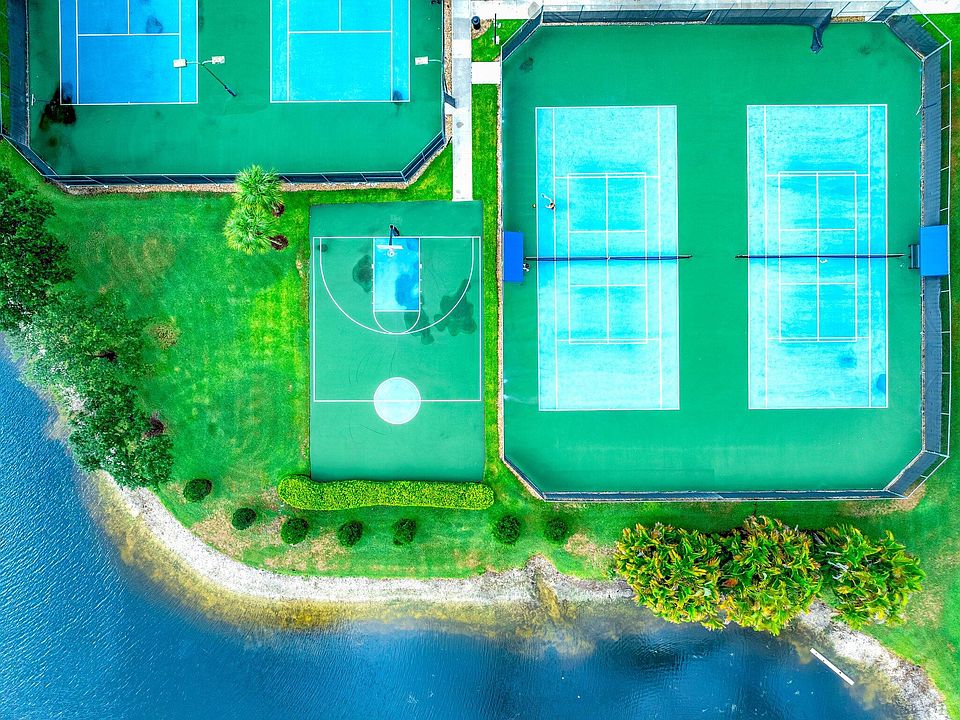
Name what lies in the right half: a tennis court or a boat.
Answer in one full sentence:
Visible in the right half is a tennis court.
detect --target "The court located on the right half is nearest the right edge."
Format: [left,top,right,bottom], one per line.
[746,103,890,410]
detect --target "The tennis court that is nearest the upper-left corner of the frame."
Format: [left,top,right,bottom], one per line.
[58,0,200,103]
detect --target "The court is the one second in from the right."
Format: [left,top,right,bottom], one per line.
[536,105,680,412]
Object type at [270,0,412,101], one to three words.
tennis court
